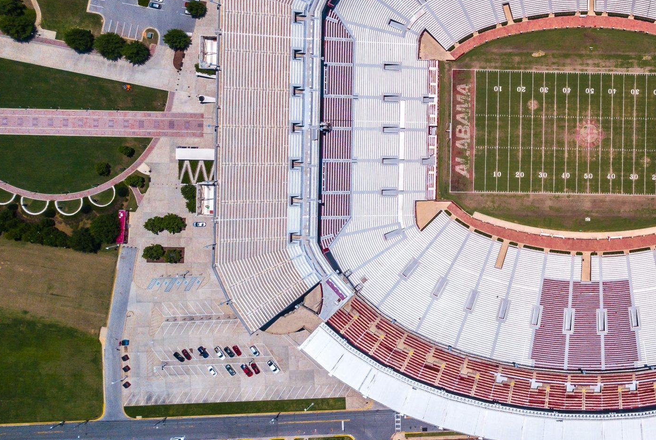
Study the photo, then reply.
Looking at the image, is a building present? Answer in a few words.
Yes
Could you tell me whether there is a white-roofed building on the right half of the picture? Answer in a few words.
No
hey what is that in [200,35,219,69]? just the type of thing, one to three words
building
